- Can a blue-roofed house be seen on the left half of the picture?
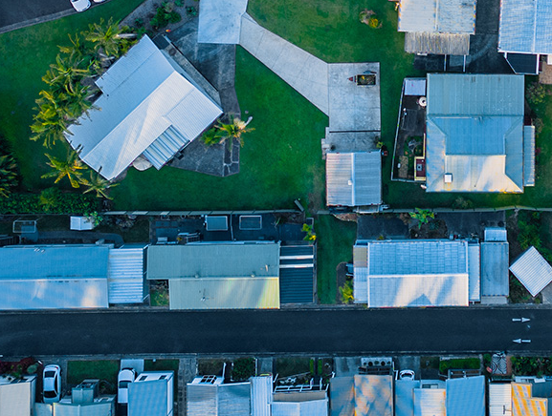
Yes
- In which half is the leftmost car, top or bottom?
bottom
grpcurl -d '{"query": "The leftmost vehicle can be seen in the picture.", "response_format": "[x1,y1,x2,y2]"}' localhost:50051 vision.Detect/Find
[39,363,63,402]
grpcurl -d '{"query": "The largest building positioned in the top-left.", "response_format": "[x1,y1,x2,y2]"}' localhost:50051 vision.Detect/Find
[64,33,225,181]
